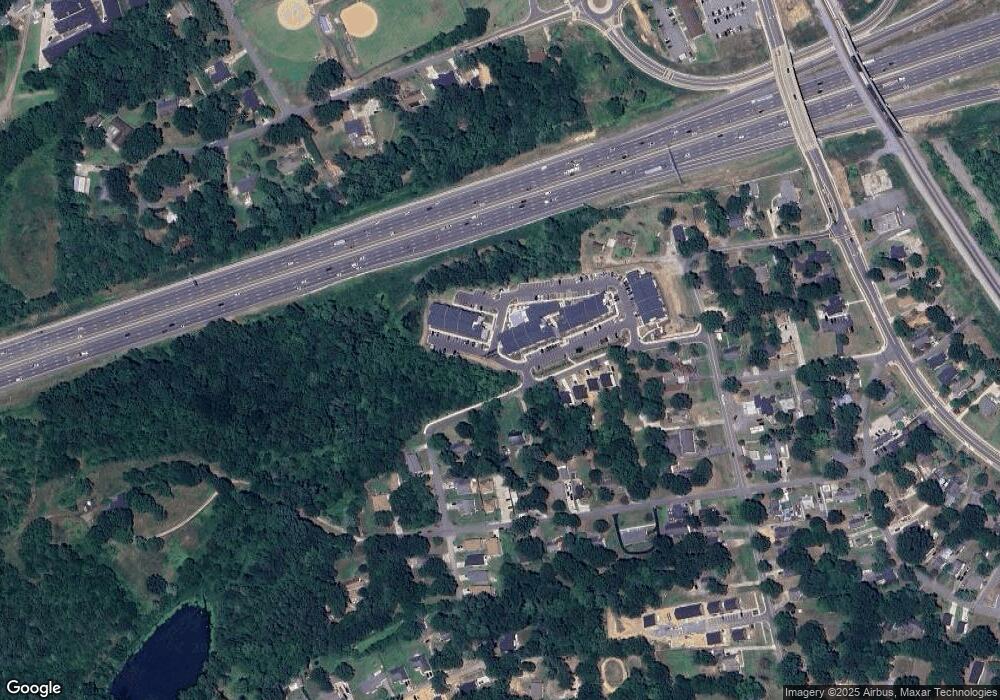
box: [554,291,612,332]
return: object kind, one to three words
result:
building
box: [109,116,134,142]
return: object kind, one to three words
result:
house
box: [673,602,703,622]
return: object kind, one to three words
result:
house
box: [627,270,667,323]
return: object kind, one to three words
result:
building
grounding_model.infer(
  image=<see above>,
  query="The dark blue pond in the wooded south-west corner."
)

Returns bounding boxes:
[109,604,212,700]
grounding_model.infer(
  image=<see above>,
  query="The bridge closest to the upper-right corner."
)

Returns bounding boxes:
[827,22,909,149]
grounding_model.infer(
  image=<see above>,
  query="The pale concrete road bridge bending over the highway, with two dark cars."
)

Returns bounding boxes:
[766,45,820,153]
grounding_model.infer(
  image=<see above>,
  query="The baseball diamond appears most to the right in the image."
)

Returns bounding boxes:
[341,0,466,76]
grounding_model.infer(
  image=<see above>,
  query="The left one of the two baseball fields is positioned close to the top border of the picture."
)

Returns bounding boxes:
[236,0,322,62]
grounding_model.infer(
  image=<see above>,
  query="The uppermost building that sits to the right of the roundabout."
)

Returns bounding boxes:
[675,0,705,38]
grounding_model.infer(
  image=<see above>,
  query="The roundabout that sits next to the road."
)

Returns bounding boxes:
[578,0,622,22]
